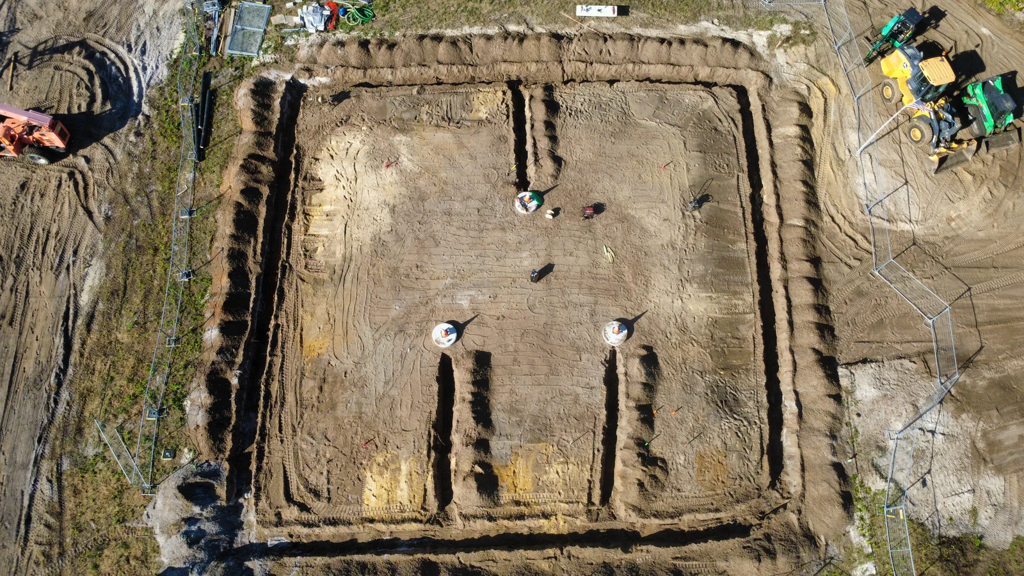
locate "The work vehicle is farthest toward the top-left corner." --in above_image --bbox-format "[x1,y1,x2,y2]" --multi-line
[0,104,66,164]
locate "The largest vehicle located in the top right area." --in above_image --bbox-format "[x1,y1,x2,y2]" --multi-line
[872,45,972,177]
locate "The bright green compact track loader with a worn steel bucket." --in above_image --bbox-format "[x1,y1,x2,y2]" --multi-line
[960,76,1022,155]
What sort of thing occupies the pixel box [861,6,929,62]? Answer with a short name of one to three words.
work vehicle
